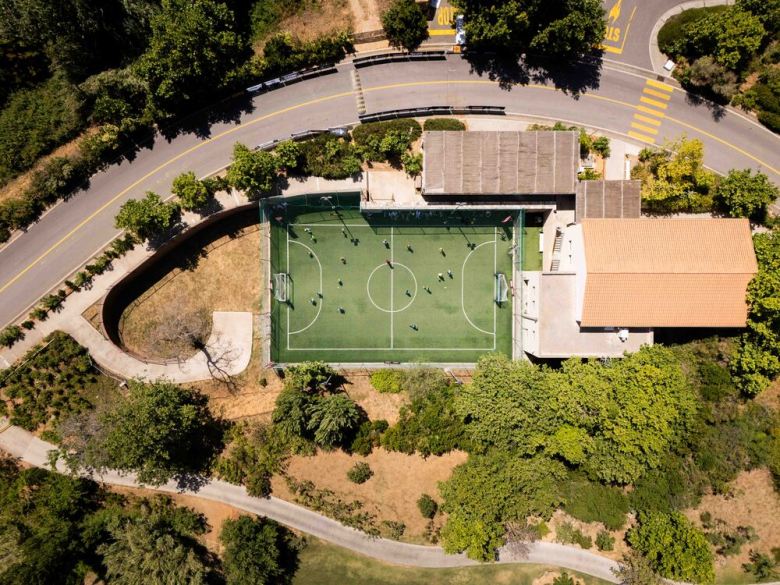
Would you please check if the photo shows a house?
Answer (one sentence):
Yes, I can see a house in this picture.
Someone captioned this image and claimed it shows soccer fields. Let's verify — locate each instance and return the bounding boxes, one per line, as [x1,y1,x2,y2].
[263,197,522,369]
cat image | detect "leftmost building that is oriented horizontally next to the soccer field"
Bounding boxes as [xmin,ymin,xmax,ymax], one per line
[423,132,579,203]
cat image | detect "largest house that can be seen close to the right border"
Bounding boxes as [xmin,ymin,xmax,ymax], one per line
[561,218,757,328]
